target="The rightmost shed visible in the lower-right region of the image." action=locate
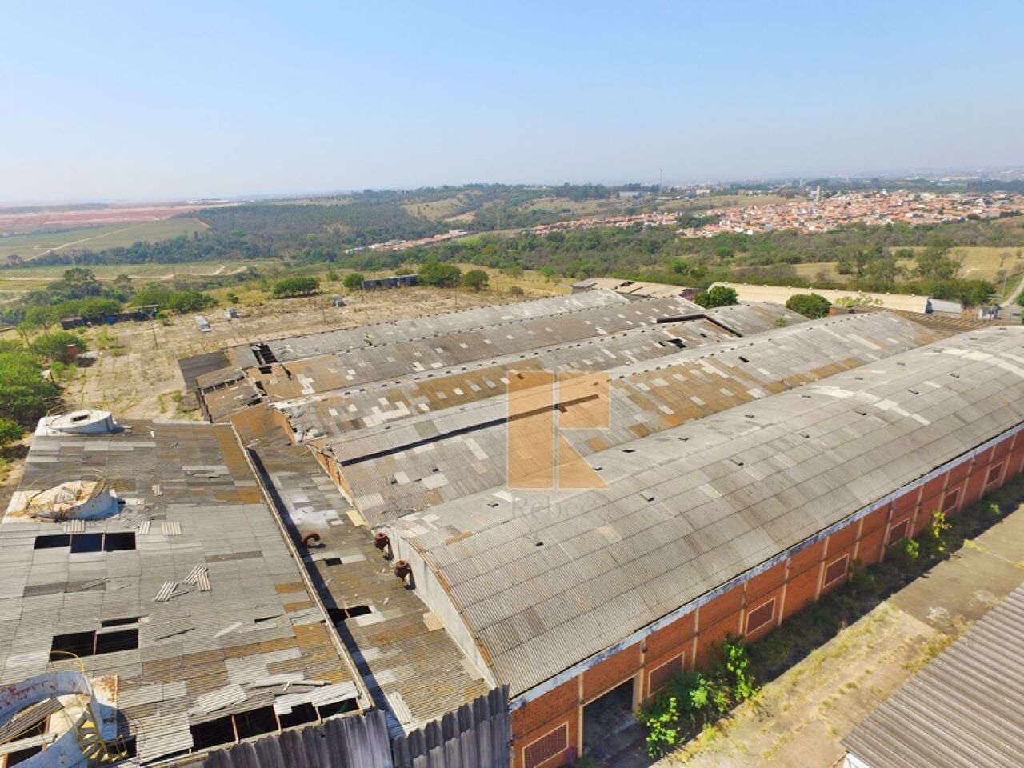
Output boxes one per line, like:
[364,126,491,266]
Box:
[842,588,1024,768]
